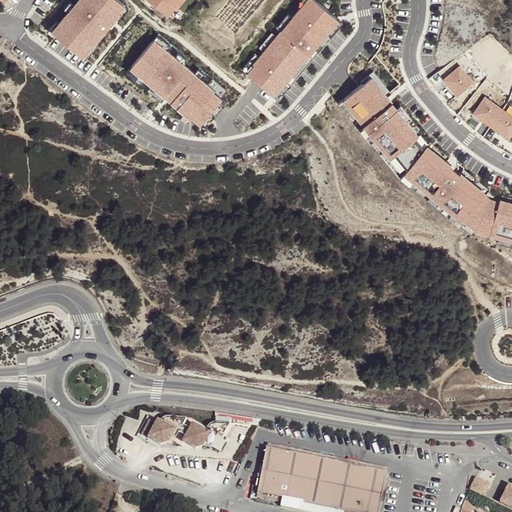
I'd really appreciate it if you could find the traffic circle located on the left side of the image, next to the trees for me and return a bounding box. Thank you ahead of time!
[52,348,124,420]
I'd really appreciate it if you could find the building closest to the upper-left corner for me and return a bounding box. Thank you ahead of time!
[52,0,126,60]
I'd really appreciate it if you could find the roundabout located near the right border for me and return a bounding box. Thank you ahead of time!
[474,280,512,384]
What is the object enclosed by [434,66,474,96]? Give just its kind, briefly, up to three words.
house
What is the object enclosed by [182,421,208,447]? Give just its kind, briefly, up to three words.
house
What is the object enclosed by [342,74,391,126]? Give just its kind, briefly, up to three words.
building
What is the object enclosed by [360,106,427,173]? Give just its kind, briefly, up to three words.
building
